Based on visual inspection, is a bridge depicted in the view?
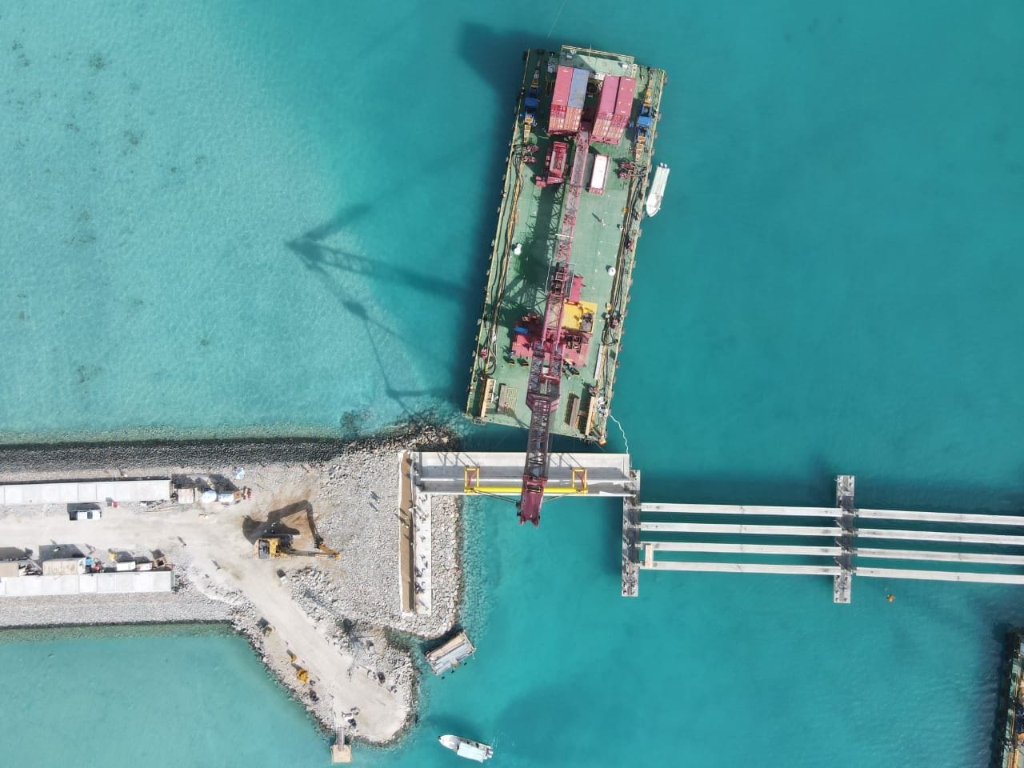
Yes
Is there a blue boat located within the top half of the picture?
No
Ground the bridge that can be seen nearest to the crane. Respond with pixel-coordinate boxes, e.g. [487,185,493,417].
[419,453,634,495]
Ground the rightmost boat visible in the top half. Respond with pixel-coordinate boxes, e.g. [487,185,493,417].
[649,162,669,214]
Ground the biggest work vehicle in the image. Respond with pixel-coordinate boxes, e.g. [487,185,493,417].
[250,536,340,560]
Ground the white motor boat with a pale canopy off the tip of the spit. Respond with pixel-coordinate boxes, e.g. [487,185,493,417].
[439,735,498,767]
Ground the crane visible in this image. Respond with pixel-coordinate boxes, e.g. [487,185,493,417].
[511,120,599,528]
